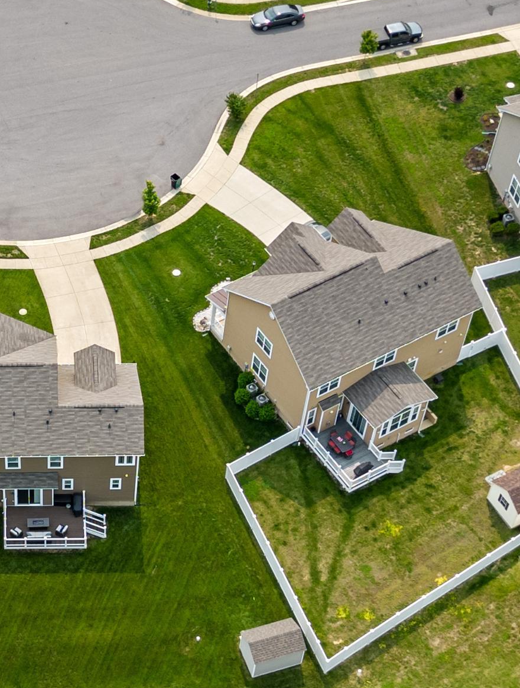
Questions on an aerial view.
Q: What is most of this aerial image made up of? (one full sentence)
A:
What you mostly see from above here is grass.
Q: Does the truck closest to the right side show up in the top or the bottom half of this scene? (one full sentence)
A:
The top half of the photo is where the truck closest to the right side is.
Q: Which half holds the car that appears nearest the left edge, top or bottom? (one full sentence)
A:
The car that appears nearest the left edge sits in the top half of the picture.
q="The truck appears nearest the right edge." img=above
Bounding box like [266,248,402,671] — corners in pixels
[363,17,429,51]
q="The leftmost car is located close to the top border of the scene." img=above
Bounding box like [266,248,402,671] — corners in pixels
[249,4,306,32]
